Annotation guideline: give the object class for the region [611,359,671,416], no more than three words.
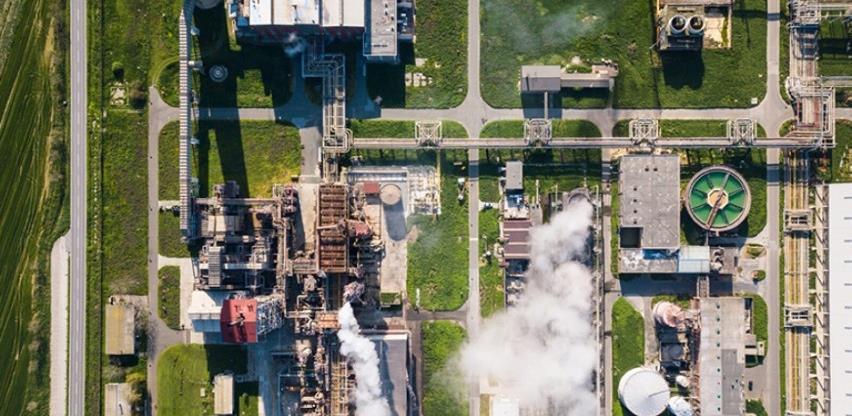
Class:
storage tank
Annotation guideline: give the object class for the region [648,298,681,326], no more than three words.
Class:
storage tank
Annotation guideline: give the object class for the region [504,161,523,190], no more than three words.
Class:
building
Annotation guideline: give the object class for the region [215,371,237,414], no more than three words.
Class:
shed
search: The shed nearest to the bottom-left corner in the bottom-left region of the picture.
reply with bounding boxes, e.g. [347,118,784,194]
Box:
[105,382,133,416]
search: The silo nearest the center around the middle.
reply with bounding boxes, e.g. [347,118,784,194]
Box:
[380,184,403,206]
